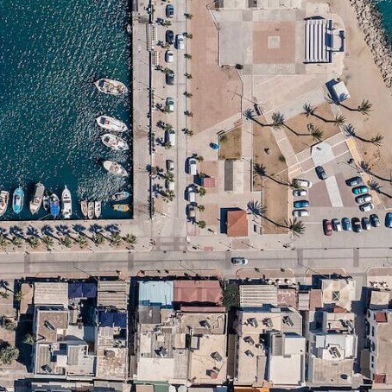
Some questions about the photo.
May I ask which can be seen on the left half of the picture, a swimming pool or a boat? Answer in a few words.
boat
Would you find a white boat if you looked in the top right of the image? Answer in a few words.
No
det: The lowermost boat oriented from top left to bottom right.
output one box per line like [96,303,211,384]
[103,161,130,180]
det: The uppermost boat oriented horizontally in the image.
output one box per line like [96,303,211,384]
[93,80,134,94]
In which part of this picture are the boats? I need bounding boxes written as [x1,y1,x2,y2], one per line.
[12,187,24,214]
[94,117,127,132]
[81,200,87,218]
[59,187,72,220]
[111,204,129,211]
[111,191,129,200]
[99,135,127,151]
[0,191,8,215]
[29,183,44,215]
[103,161,130,180]
[86,200,93,219]
[49,193,58,218]
[94,199,100,218]
[93,80,134,94]
[42,194,49,212]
